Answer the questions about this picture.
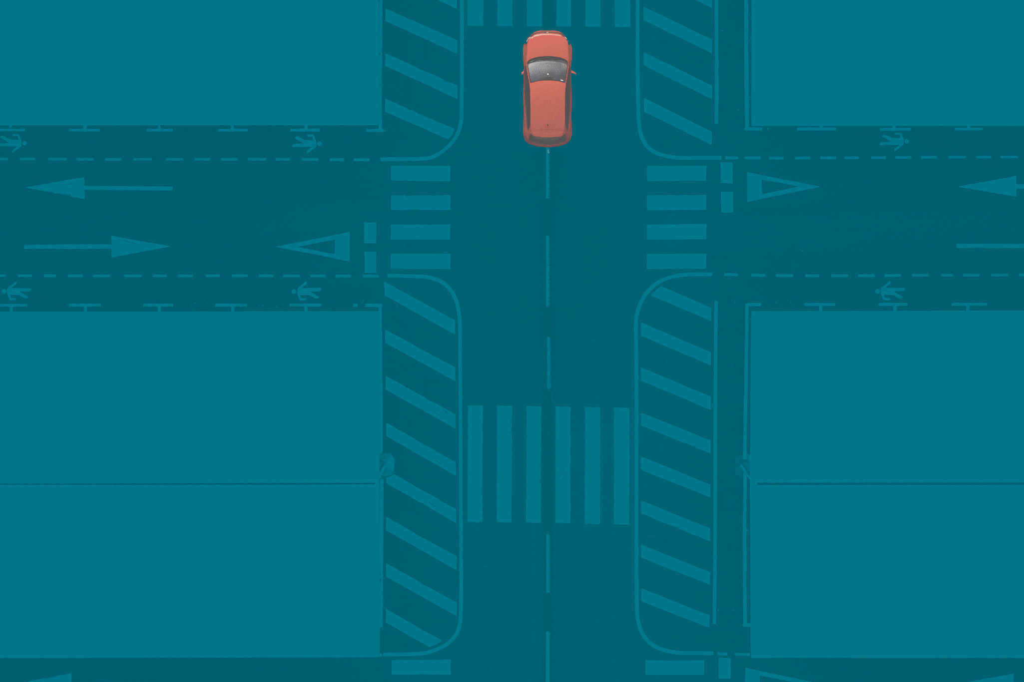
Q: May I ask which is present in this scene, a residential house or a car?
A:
car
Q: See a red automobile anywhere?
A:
Yes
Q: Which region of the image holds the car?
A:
top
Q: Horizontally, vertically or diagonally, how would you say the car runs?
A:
vertically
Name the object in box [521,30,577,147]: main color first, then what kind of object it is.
red car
